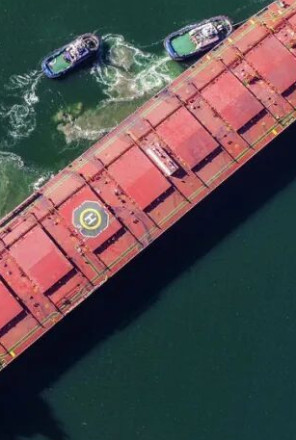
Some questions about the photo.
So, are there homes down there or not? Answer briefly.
No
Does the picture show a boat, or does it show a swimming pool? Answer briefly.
boat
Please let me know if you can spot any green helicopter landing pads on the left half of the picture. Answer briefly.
No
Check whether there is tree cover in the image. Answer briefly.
No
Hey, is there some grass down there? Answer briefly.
No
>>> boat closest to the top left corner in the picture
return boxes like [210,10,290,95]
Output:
[39,34,103,81]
